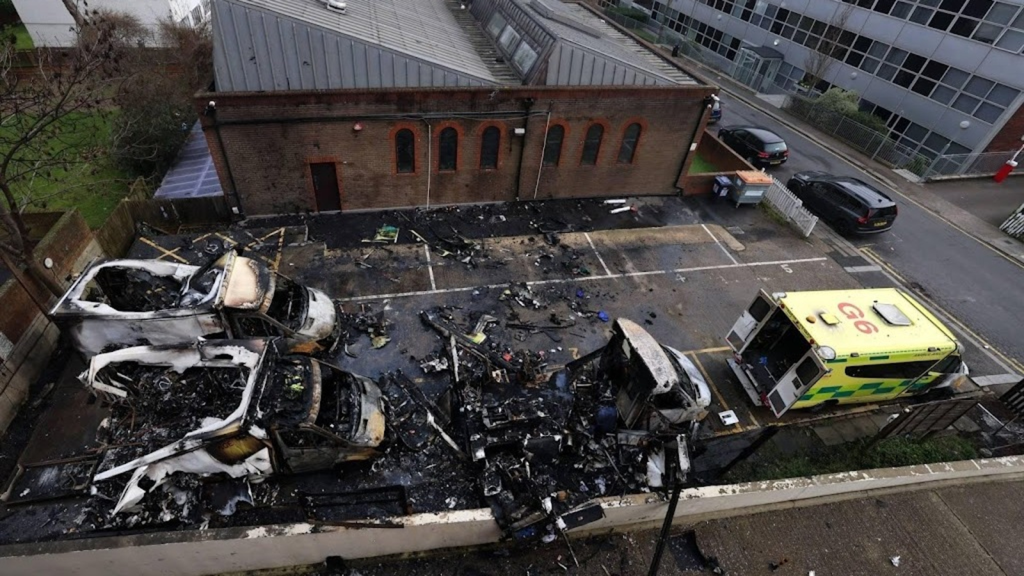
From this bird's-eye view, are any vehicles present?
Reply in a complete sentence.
Yes, a vehicle is visible in the scene.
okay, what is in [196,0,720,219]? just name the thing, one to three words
building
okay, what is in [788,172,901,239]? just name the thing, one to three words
car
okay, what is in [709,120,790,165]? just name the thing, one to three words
car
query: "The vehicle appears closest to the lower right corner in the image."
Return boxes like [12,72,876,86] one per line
[724,286,977,419]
